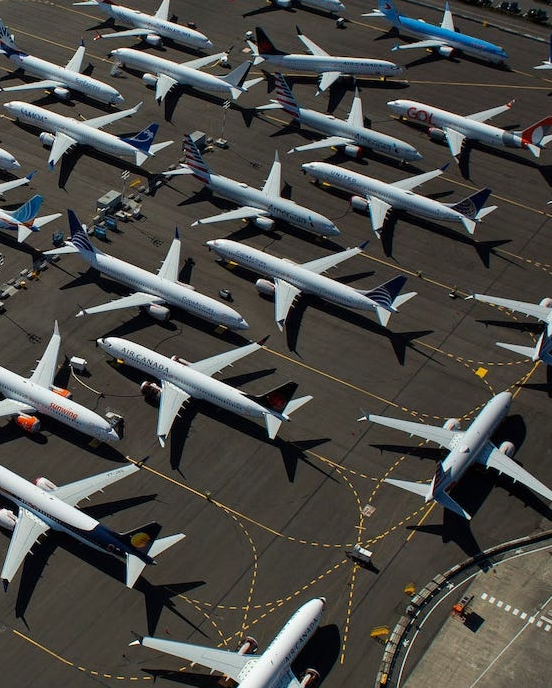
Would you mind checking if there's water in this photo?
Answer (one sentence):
No, there's no water in this view.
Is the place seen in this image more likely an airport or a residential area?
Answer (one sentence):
What you see here is an airport.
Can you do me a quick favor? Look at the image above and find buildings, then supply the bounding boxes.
[189,130,205,148]
[95,190,123,215]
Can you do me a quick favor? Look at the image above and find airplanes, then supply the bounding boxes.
[254,70,424,163]
[42,209,248,332]
[128,598,328,688]
[97,336,314,447]
[207,237,418,332]
[302,161,500,241]
[0,170,62,242]
[110,47,263,106]
[532,32,552,68]
[0,19,124,106]
[5,100,174,171]
[73,0,213,50]
[245,25,404,96]
[0,322,119,440]
[464,288,552,365]
[360,0,511,61]
[160,132,342,238]
[357,391,552,521]
[386,97,552,162]
[0,458,185,593]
